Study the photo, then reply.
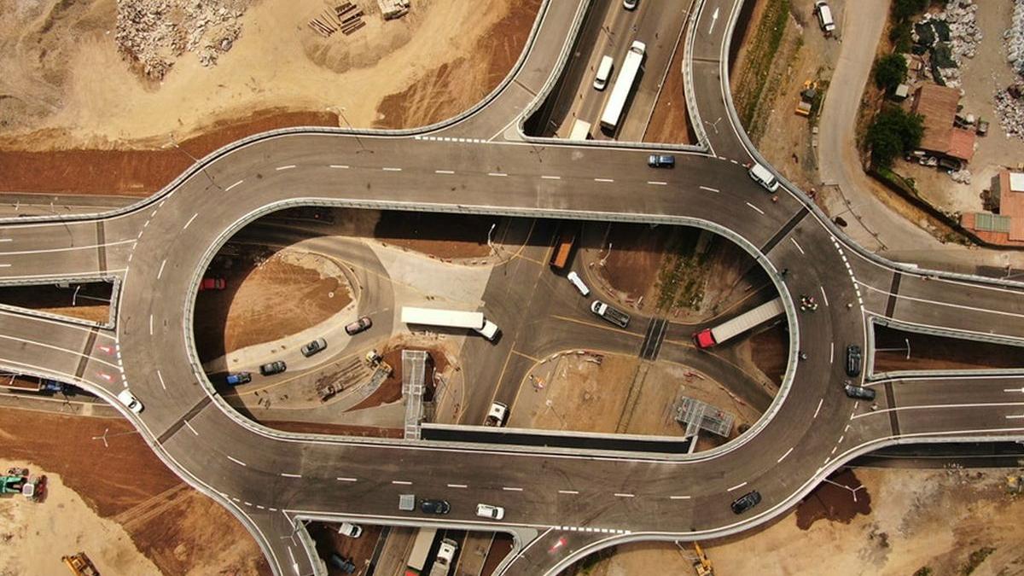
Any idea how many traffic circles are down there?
one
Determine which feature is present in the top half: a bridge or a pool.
bridge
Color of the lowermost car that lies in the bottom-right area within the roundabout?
black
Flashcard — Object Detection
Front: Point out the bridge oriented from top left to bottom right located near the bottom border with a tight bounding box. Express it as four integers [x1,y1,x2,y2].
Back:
[209,493,330,576]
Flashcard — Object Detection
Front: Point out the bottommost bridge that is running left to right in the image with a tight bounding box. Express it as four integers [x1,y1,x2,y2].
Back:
[491,526,636,576]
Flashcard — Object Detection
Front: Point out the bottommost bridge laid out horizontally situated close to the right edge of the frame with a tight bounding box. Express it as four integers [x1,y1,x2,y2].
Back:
[817,368,1024,481]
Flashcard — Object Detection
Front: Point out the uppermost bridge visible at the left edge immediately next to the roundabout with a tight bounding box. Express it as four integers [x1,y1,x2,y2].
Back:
[0,186,165,289]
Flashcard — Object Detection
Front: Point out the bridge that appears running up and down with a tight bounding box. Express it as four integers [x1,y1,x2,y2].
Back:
[681,0,767,165]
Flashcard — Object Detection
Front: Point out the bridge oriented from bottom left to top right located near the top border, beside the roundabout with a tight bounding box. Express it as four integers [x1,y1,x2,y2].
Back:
[414,0,593,143]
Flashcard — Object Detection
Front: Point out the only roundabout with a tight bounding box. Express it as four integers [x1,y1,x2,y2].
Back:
[106,125,876,546]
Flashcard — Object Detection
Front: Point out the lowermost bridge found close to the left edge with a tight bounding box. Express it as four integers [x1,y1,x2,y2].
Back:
[0,301,130,416]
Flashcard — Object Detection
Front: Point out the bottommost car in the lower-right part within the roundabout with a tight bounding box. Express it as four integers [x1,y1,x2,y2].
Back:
[729,490,761,515]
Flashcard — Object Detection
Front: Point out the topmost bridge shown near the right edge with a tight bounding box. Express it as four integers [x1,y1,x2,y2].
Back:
[827,220,1024,348]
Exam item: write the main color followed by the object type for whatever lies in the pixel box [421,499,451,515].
black car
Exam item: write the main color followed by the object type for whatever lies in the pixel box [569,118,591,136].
white vehicle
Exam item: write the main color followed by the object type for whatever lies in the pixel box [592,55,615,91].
white vehicle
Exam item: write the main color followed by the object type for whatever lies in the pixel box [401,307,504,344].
white truck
